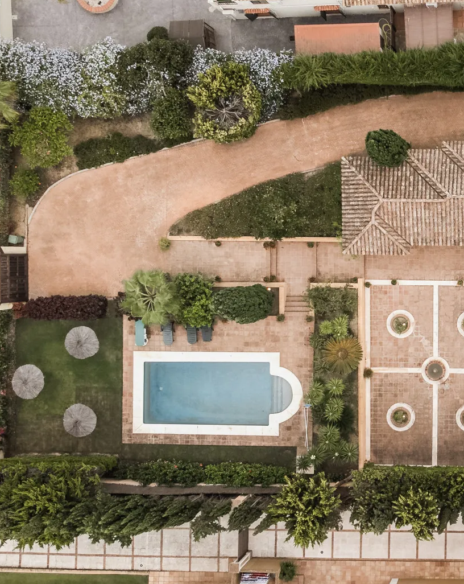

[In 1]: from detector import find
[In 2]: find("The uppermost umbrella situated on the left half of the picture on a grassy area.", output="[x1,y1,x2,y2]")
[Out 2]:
[66,323,105,360]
